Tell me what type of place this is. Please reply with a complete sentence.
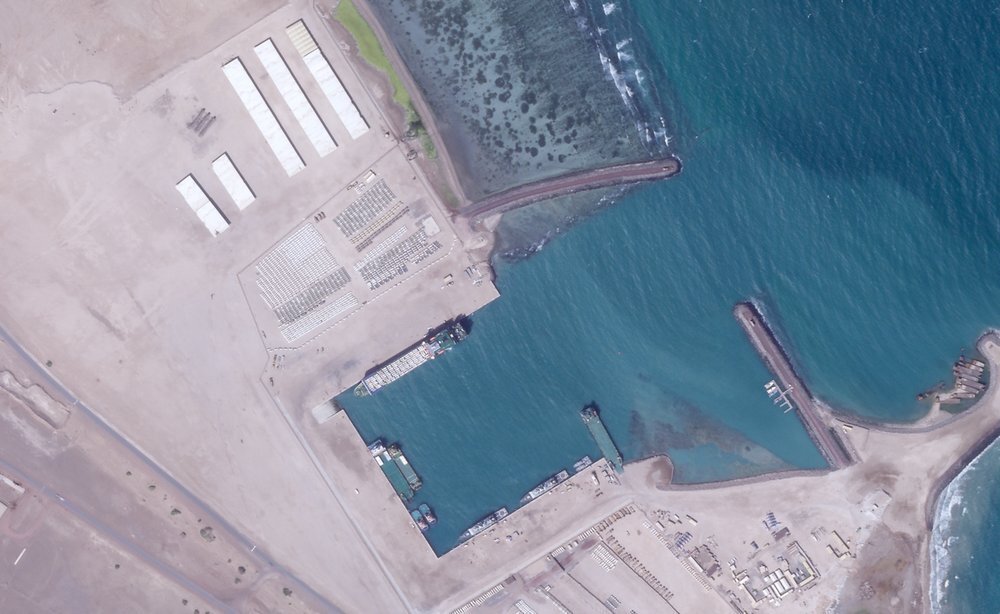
This image shows a port.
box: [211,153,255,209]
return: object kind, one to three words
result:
building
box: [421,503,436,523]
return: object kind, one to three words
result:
boat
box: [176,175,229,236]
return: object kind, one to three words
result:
building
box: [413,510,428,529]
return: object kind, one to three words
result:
boat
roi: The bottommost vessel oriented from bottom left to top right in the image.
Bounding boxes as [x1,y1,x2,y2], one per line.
[458,508,509,541]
